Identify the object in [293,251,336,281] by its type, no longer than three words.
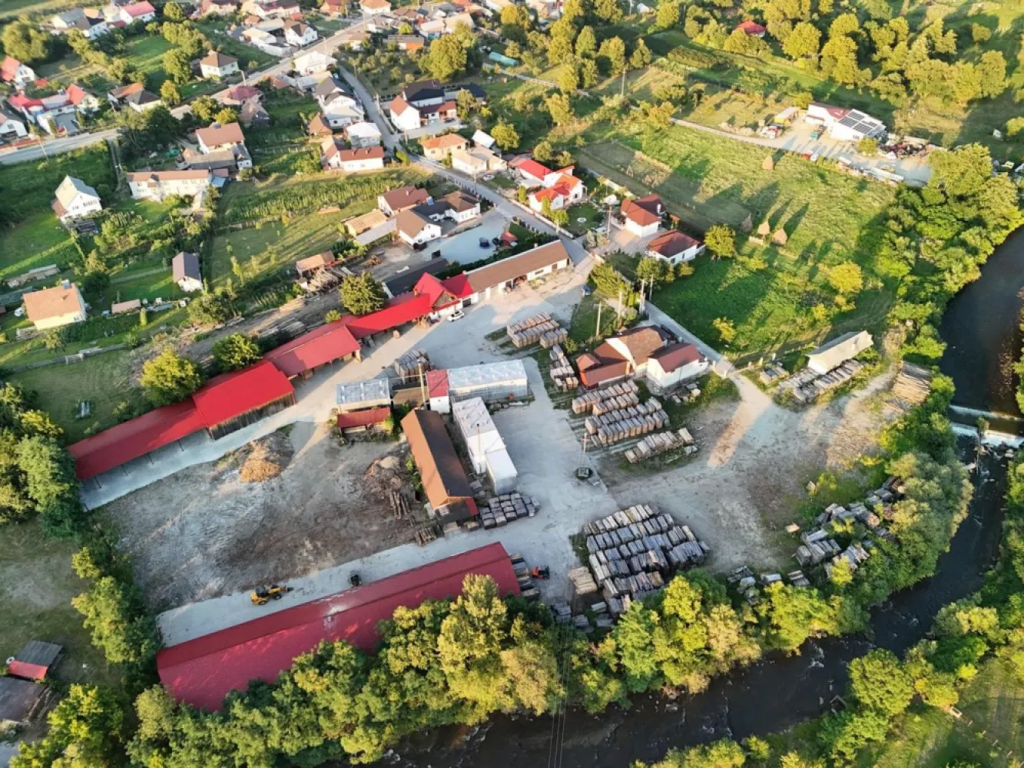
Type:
shed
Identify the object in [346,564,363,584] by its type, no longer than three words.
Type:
work vehicle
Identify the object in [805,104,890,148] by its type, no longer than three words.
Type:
building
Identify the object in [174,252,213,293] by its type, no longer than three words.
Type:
house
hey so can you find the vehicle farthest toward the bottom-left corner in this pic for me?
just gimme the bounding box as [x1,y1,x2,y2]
[242,581,290,608]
